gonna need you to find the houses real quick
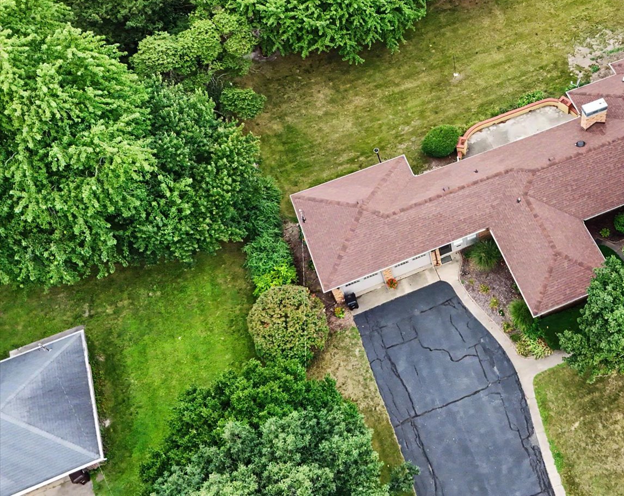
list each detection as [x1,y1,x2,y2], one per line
[290,58,624,321]
[0,326,112,496]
